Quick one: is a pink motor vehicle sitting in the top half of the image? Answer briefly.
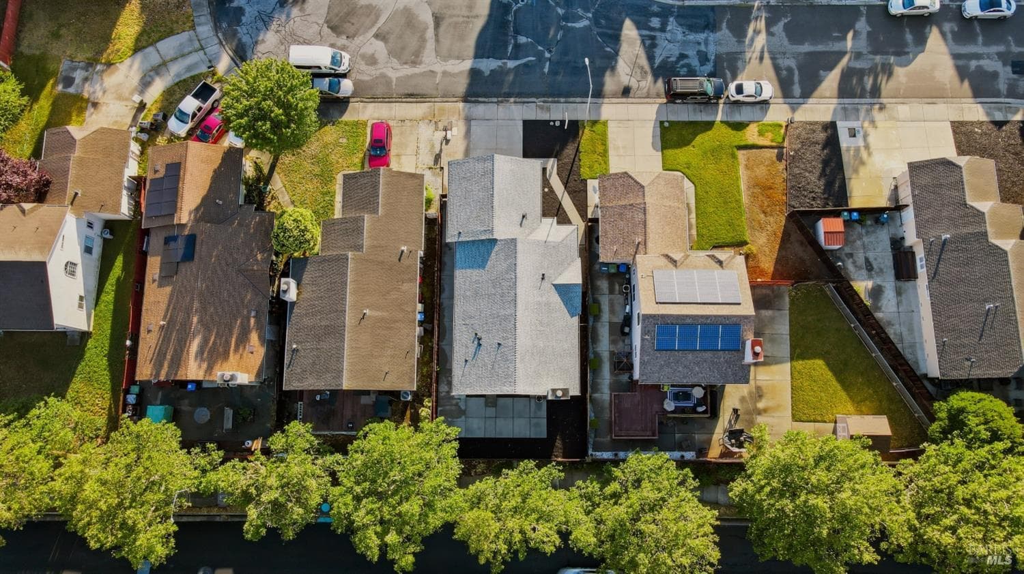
Yes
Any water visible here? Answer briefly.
No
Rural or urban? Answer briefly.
urban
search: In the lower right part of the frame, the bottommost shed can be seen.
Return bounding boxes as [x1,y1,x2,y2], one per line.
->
[826,414,893,451]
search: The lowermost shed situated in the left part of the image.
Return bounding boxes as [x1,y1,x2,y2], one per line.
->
[140,403,173,427]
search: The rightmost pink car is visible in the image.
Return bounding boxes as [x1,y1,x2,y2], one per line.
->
[368,123,390,165]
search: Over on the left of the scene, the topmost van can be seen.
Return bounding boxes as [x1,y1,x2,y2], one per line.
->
[286,43,349,73]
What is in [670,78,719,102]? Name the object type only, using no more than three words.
car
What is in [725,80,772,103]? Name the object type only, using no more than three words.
car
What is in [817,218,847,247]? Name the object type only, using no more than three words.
shed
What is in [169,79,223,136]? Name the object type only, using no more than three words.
truck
